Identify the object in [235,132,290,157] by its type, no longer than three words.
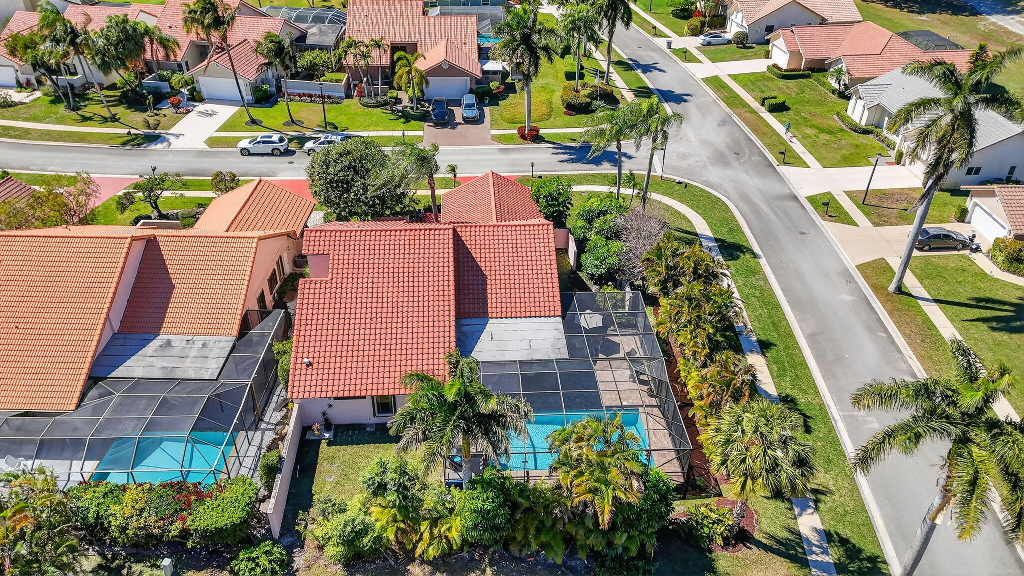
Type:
car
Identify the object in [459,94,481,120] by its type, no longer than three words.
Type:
car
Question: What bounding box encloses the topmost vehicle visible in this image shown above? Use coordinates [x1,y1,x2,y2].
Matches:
[700,31,737,46]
